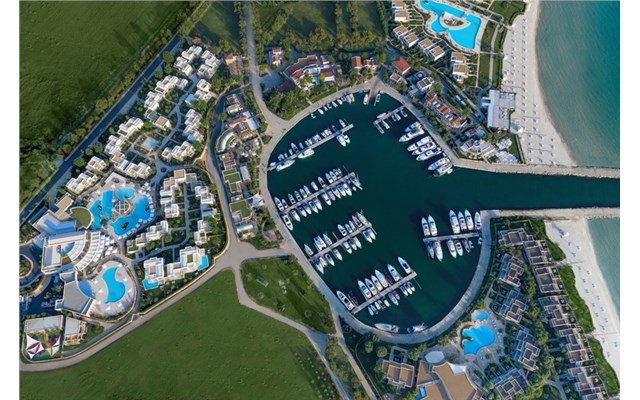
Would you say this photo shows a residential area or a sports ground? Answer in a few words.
residential area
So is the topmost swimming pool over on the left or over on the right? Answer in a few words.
right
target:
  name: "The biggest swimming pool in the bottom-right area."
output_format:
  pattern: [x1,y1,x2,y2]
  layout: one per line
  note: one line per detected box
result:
[456,305,506,366]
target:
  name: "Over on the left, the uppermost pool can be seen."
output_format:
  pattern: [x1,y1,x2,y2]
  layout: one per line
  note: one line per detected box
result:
[139,137,158,153]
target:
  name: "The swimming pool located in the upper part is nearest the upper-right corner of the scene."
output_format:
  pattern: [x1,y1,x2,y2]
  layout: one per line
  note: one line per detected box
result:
[416,0,486,54]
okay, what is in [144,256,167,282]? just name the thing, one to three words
house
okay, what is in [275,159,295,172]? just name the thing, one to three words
boat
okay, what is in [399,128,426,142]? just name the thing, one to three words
boat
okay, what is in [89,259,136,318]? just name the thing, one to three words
swimming pool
